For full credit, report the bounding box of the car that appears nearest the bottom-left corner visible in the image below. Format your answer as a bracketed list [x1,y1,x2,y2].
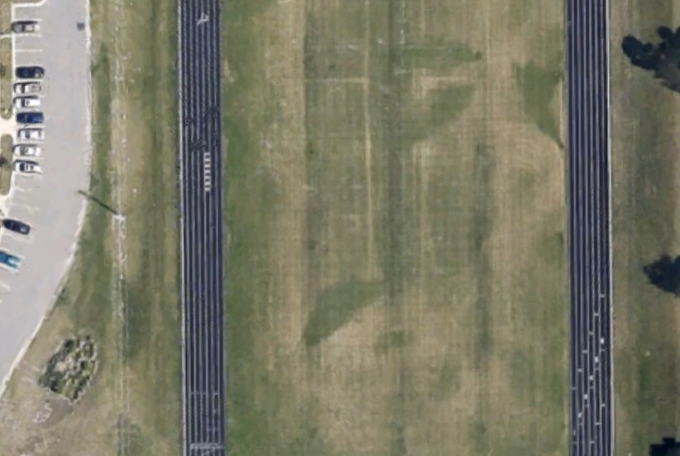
[0,251,22,267]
